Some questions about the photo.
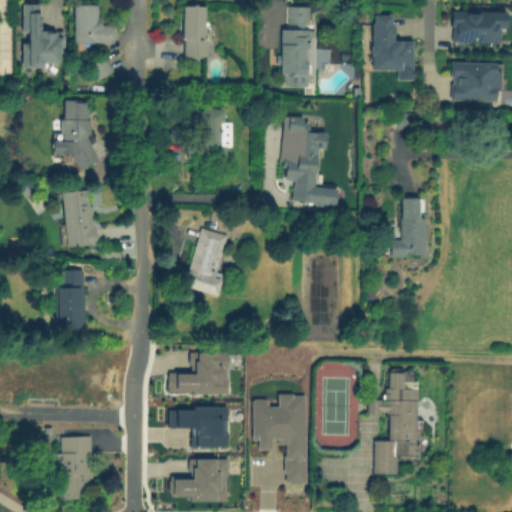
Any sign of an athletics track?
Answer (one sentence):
No, there's no athletics track here.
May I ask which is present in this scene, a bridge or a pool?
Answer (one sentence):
The image shows a pool.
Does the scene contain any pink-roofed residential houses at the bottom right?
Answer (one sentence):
No, there's no pink-roofed residential house to be seen at the bottom right.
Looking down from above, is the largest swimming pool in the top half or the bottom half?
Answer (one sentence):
The top half of the photo is where the largest swimming pool is.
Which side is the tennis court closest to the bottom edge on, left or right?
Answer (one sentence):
You can find the tennis court closest to the bottom edge on the right side of the picture.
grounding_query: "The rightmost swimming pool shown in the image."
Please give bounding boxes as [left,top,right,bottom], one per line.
[320,69,350,93]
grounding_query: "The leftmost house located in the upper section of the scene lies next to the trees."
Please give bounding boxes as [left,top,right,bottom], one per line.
[24,4,66,68]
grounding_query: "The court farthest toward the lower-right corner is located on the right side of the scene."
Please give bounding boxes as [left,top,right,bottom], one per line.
[316,362,358,446]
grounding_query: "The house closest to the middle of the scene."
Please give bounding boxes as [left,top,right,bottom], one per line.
[189,230,230,296]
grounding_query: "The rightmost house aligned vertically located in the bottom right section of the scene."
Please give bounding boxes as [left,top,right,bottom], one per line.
[372,372,421,476]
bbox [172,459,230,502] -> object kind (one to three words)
house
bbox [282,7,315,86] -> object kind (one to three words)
house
